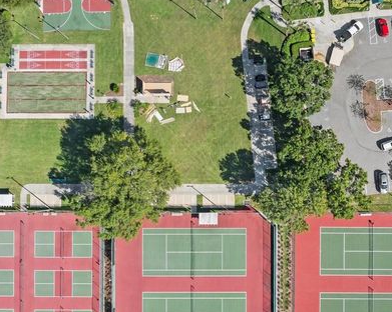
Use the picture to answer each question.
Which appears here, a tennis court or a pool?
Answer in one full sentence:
Visible in the photo is a tennis court.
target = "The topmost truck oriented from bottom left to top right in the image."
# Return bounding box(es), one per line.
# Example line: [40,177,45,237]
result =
[336,20,365,43]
